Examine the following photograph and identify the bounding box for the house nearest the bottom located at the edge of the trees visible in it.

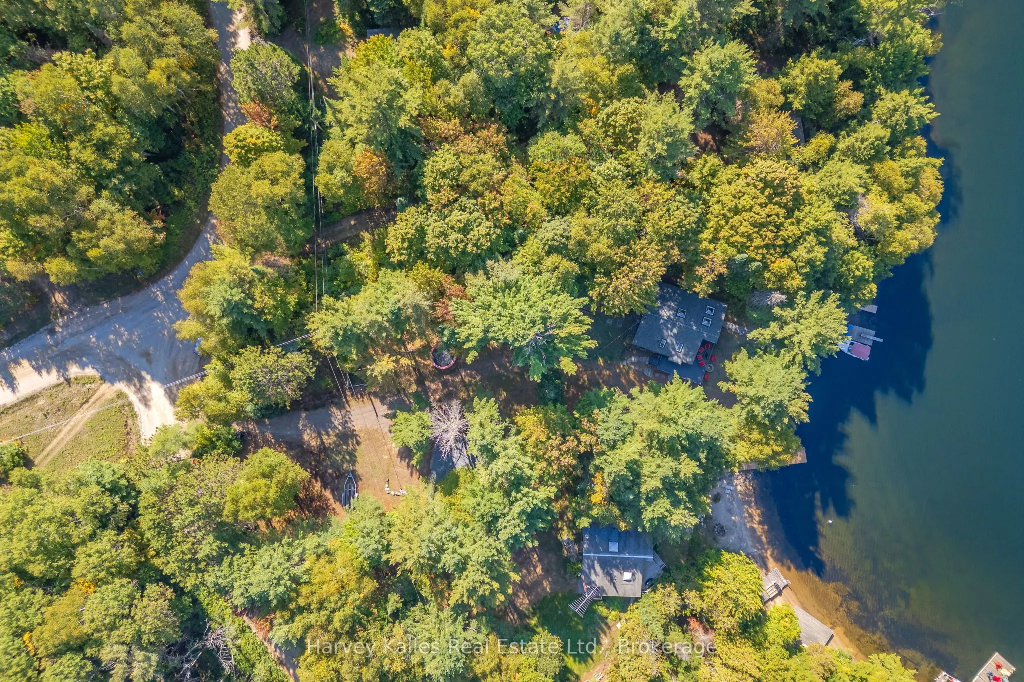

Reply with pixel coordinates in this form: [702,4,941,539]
[577,524,667,599]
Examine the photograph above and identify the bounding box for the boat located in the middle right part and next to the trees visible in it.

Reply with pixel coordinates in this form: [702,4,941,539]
[831,339,874,360]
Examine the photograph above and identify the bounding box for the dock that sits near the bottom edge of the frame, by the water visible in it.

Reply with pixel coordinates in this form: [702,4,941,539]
[968,648,1016,682]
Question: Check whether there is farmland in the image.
No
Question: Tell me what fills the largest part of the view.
trees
